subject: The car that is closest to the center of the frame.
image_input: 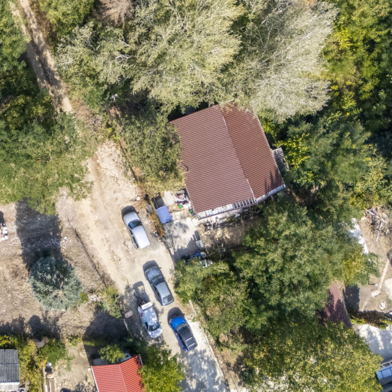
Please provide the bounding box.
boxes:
[124,210,151,252]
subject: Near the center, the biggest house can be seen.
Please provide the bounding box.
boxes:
[164,103,286,219]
